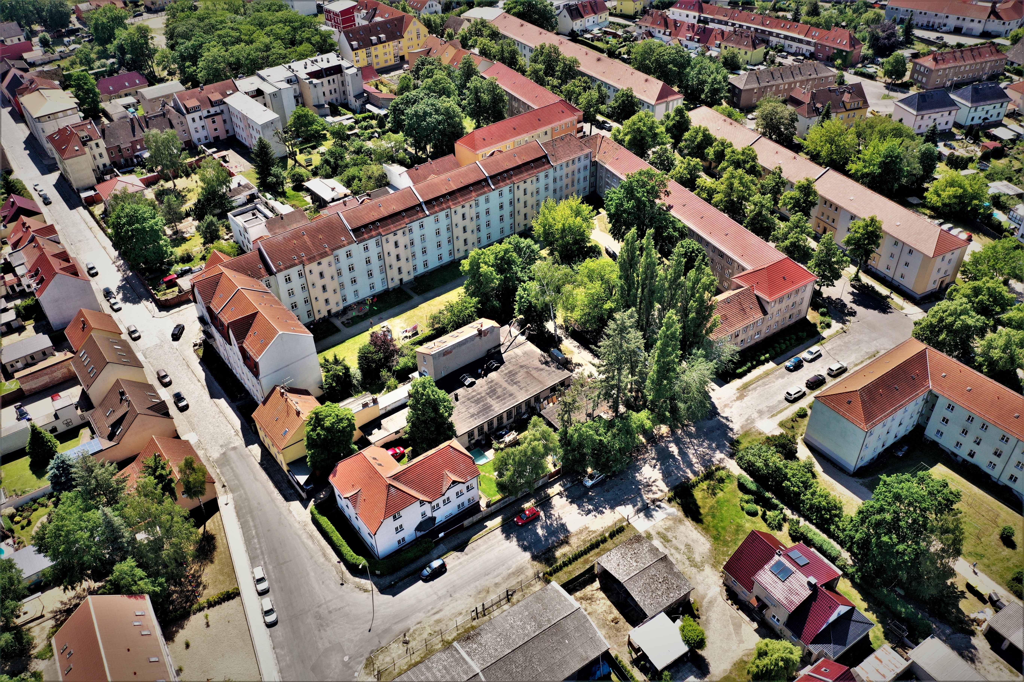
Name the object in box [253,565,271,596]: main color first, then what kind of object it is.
white car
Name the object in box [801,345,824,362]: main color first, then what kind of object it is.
white car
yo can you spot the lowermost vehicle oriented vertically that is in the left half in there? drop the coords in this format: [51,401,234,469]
[260,596,279,628]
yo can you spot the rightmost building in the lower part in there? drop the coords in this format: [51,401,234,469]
[986,603,1024,667]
